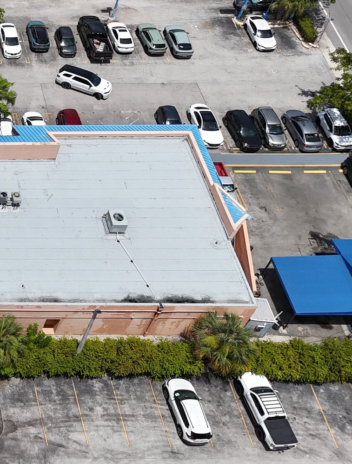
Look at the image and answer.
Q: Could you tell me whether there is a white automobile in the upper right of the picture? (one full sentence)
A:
Yes, you'll find a white automobile in the upper right of the picture.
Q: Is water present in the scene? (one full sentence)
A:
No, water can't be seen anywhere here.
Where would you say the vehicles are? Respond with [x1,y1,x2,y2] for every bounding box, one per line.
[237,370,303,455]
[57,104,83,125]
[164,379,213,445]
[229,0,279,14]
[0,110,19,135]
[165,26,195,60]
[287,111,322,153]
[248,15,279,52]
[55,61,116,99]
[253,104,290,150]
[211,158,251,214]
[55,24,79,59]
[107,20,136,54]
[226,109,262,151]
[23,109,49,125]
[81,16,112,59]
[188,103,224,147]
[0,22,24,59]
[136,23,168,57]
[157,102,184,124]
[26,19,51,53]
[321,107,352,152]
